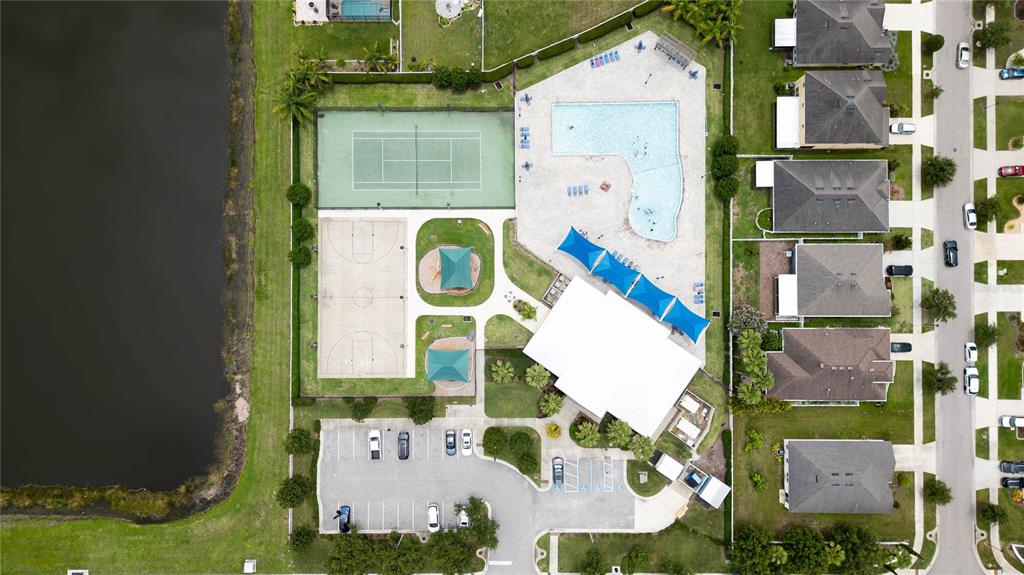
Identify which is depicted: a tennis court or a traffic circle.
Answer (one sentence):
Visible in the photo is a tennis court.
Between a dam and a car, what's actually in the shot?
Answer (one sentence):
It is a car that can be seen here.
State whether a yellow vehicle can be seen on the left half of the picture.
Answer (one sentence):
No, there's no yellow vehicle to be seen on the left half of the picture.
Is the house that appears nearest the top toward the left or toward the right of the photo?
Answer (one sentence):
The house that appears nearest the top appears in the right half of the scene.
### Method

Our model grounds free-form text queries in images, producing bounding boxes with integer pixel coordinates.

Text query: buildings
[771,0,893,68]
[752,161,893,233]
[695,470,731,509]
[774,244,892,316]
[762,328,894,401]
[651,449,684,481]
[676,417,700,439]
[522,276,703,440]
[773,71,890,150]
[783,439,895,513]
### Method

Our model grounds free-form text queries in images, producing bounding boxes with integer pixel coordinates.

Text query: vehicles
[956,42,971,69]
[964,367,980,395]
[942,239,958,266]
[397,432,409,459]
[891,342,914,354]
[445,429,457,456]
[963,203,978,230]
[890,122,916,134]
[998,66,1024,80]
[426,504,439,531]
[552,458,564,485]
[457,503,469,530]
[998,416,1024,429]
[964,342,978,363]
[1000,477,1024,490]
[368,430,381,461]
[999,461,1024,474]
[998,165,1024,177]
[886,264,915,277]
[333,505,351,533]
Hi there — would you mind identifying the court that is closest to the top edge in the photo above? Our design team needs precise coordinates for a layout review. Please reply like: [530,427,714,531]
[318,111,515,208]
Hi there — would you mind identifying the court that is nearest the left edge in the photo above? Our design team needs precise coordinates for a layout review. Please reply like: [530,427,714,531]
[318,217,407,374]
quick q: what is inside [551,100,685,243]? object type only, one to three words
swimming pool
